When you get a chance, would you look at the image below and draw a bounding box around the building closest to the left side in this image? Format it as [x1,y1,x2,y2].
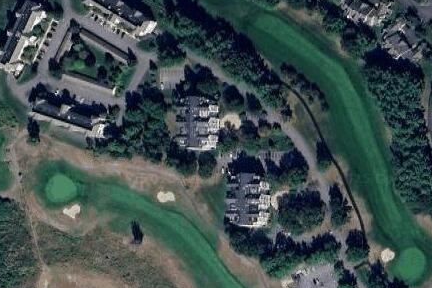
[0,5,48,80]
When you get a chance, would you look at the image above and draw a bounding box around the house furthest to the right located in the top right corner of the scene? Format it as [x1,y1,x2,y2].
[382,20,429,66]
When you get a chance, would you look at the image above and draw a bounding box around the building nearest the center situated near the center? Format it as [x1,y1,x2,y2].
[175,97,221,153]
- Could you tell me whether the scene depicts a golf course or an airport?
golf course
